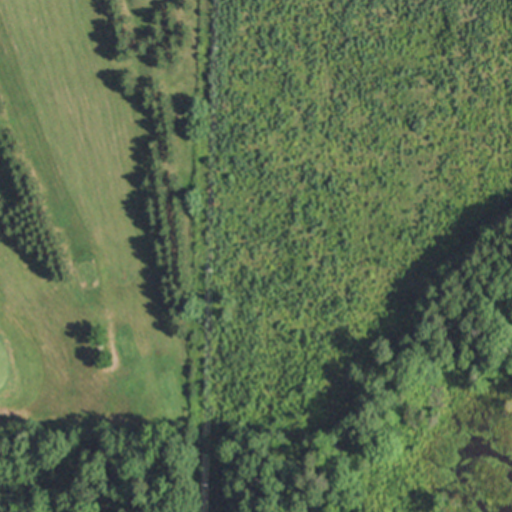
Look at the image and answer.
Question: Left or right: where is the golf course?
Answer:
left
